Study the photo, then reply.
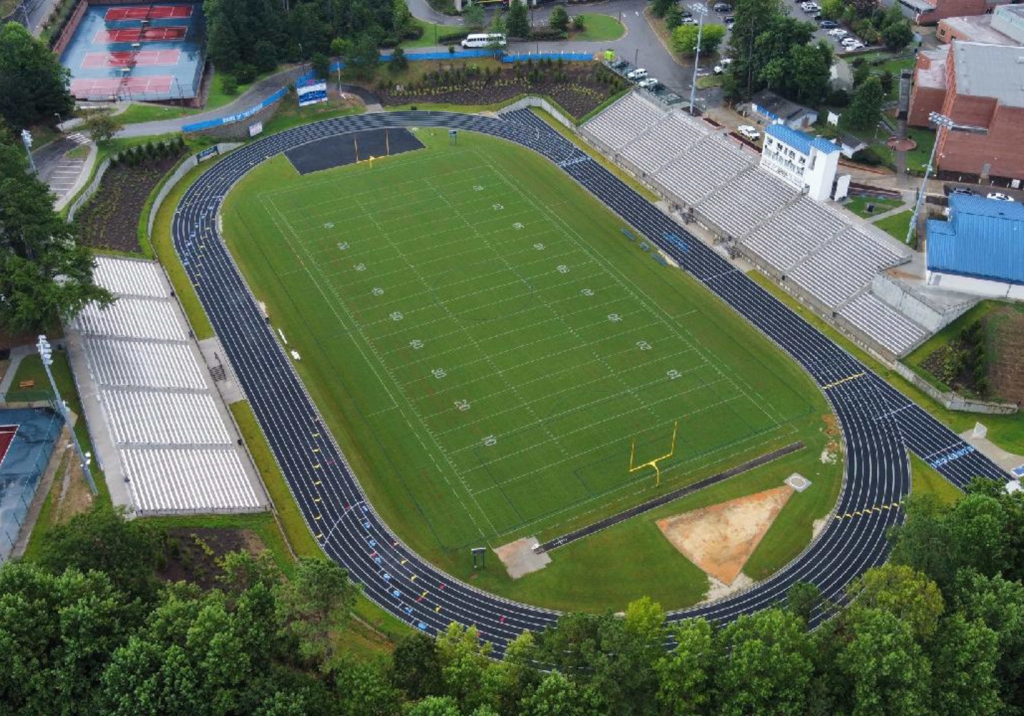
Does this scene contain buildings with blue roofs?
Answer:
Yes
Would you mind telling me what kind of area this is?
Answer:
sports ground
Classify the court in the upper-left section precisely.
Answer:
tennis court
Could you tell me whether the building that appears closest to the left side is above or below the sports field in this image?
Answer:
above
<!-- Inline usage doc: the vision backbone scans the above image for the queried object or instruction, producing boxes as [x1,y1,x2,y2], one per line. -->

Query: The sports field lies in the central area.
[246,142,813,563]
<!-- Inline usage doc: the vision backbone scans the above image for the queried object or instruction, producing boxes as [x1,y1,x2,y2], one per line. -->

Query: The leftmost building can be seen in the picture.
[752,90,817,135]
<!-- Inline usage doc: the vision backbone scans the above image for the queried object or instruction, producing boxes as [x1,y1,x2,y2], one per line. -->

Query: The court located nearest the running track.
[46,3,207,109]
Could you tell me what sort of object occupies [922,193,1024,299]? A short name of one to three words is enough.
building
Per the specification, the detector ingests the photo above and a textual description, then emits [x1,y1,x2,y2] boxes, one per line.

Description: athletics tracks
[171,107,1024,680]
